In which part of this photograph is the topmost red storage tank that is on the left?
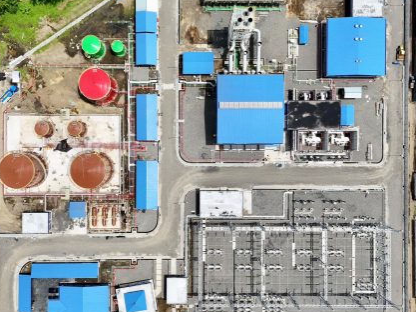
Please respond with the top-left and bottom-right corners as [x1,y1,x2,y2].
[78,68,118,105]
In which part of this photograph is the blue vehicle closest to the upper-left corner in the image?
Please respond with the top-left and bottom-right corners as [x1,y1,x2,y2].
[0,83,17,102]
